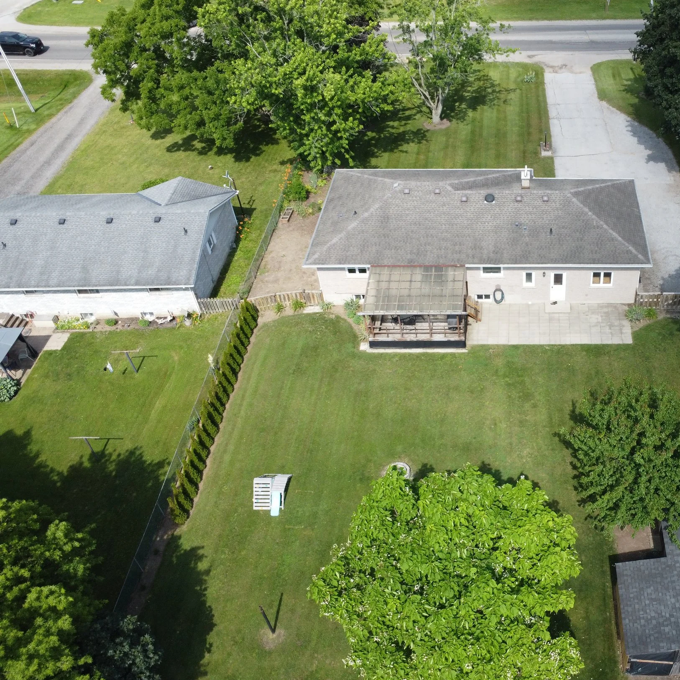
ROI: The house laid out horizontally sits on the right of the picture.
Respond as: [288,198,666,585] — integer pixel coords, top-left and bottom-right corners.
[302,164,653,304]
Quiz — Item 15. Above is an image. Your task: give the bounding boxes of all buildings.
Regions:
[618,514,680,672]
[302,164,653,304]
[0,174,244,313]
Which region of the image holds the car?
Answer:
top left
